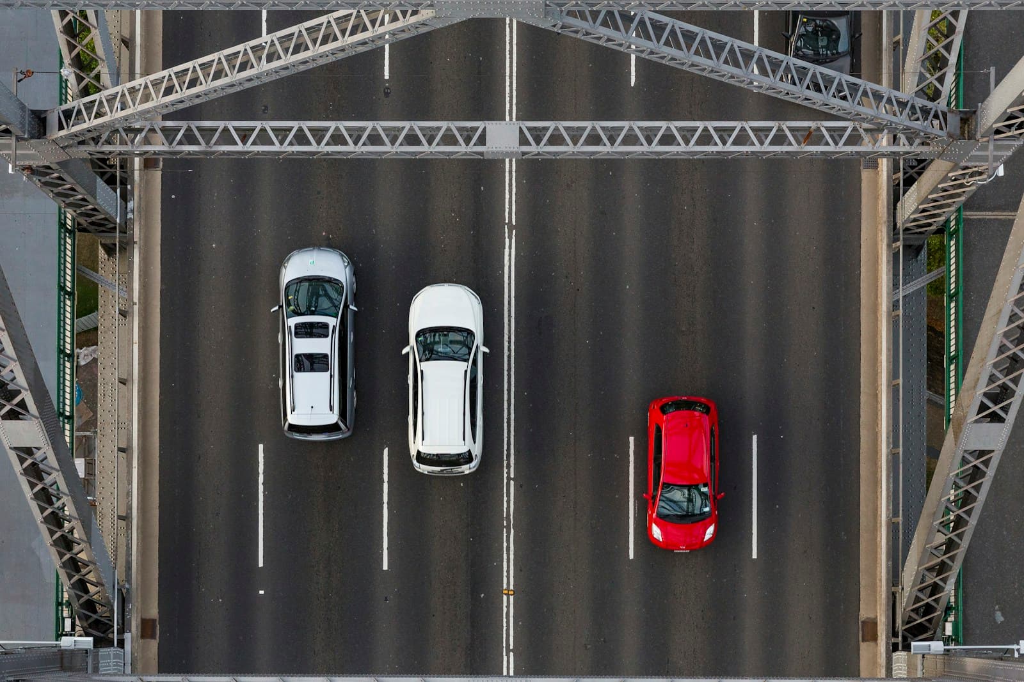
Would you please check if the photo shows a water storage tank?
No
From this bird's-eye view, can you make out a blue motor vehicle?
No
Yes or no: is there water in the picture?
No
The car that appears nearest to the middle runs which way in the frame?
up and down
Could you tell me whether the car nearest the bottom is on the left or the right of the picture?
right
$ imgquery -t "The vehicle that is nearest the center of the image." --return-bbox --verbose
[401,284,489,475]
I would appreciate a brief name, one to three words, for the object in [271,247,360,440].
car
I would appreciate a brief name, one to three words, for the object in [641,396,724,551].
car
